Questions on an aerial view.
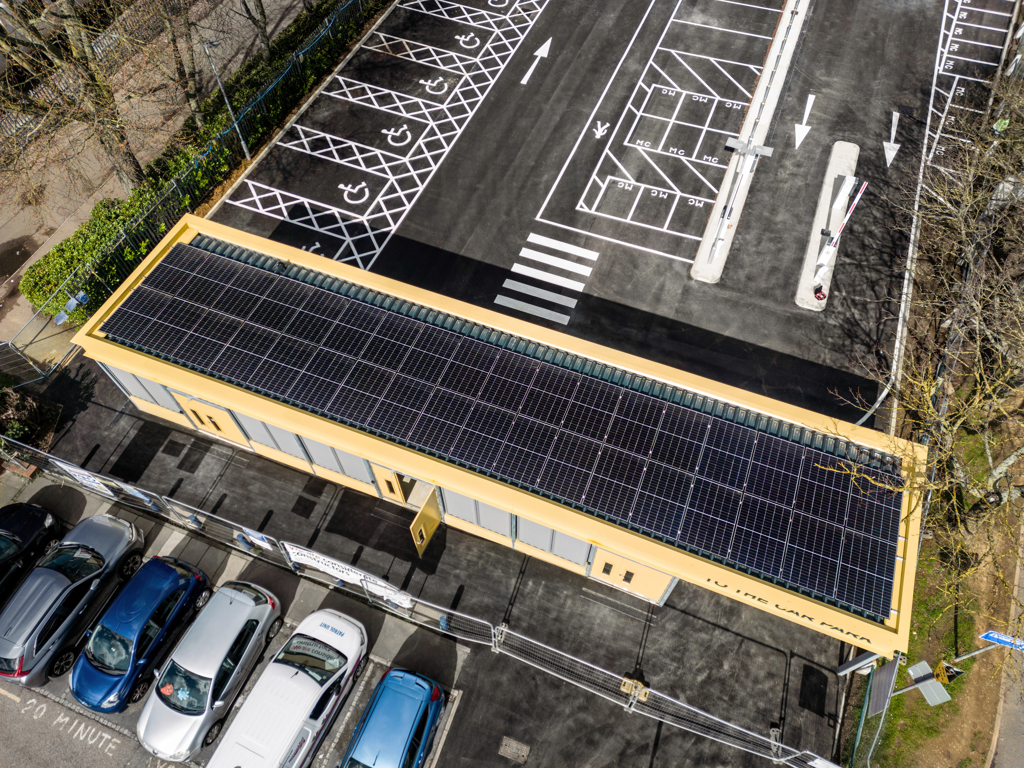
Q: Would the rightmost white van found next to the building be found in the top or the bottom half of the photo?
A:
bottom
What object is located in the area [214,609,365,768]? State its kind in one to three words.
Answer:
van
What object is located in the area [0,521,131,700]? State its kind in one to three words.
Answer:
car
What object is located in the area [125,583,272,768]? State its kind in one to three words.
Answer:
car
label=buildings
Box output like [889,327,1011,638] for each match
[71,213,927,676]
